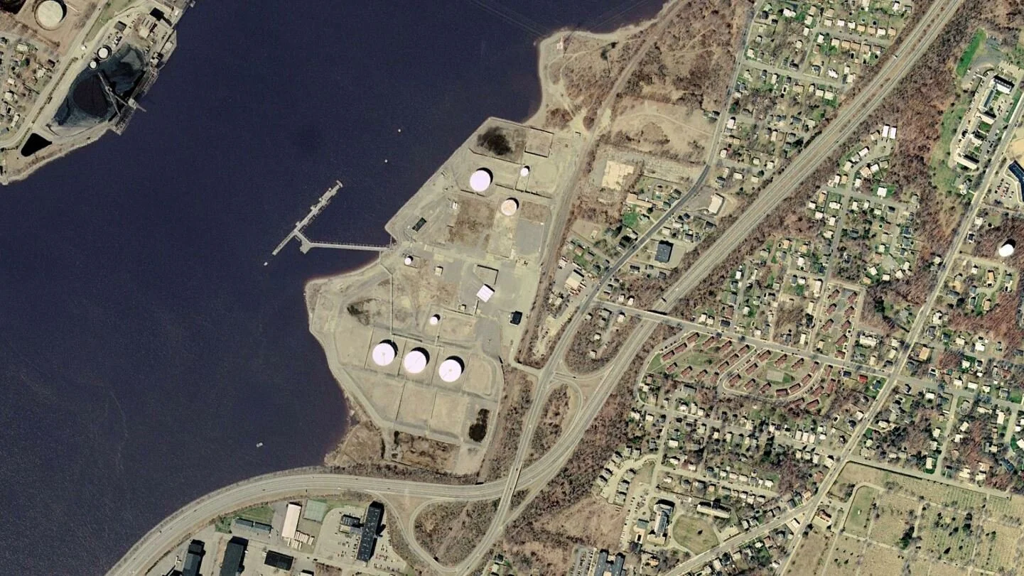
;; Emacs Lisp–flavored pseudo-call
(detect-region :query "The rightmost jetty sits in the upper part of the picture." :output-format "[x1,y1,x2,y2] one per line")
[271,181,391,263]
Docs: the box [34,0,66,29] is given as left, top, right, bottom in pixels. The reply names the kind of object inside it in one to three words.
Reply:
storage tank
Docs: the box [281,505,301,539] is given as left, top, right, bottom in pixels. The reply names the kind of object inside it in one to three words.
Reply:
building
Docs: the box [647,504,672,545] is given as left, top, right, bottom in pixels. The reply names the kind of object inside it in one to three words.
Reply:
building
